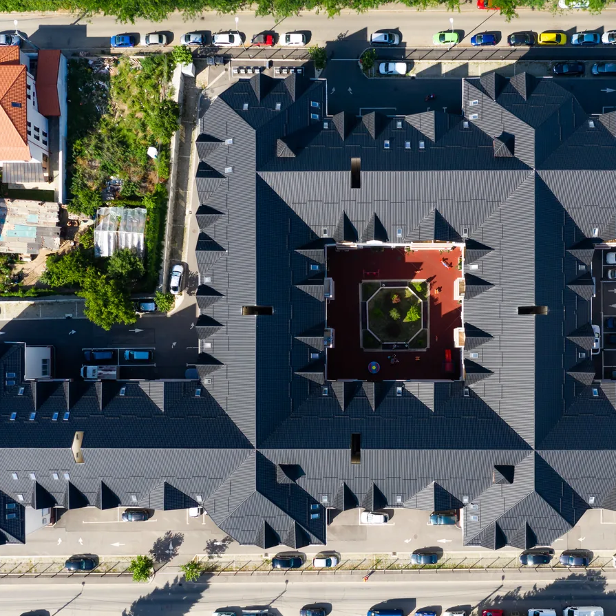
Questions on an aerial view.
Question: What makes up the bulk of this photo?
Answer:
buildings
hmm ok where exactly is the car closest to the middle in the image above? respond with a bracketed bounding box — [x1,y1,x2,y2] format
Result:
[170,266,183,295]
